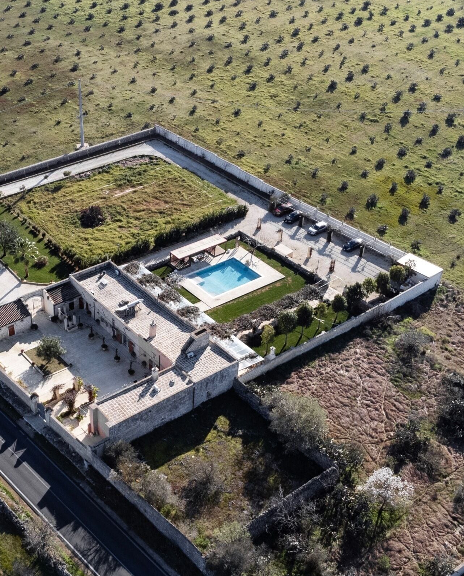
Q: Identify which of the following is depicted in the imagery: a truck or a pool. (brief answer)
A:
pool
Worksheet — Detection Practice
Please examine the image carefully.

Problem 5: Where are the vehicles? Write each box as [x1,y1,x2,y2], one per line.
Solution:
[342,238,363,252]
[286,211,306,223]
[309,221,329,235]
[273,203,292,215]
